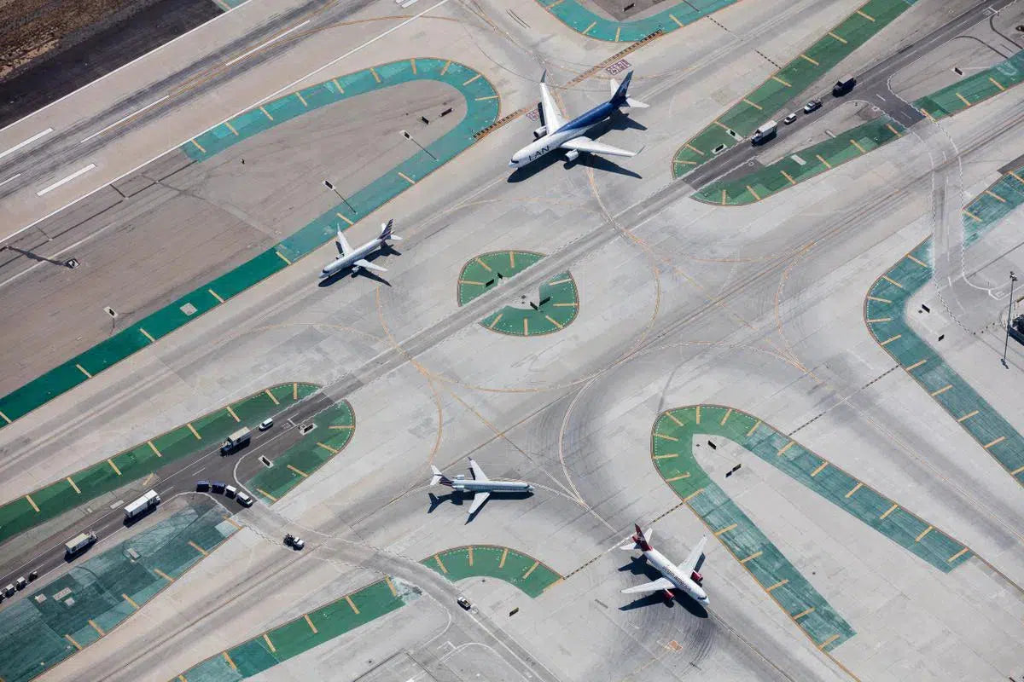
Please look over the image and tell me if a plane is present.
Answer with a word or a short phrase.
Yes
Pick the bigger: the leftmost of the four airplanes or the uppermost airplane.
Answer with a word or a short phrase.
the uppermost airplane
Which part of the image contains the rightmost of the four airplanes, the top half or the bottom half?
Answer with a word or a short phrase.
bottom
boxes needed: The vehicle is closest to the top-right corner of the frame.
[834,73,855,93]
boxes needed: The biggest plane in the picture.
[509,69,645,167]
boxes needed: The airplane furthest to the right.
[619,524,709,604]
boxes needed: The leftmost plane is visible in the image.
[319,218,400,278]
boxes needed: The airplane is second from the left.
[433,458,534,513]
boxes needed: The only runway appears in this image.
[0,0,446,242]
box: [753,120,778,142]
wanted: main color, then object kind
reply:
white truck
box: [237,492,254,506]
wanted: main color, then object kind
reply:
white car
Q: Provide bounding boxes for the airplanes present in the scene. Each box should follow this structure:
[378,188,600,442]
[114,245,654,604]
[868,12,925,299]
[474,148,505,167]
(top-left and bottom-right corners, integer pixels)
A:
[433,458,534,513]
[509,69,645,167]
[619,524,709,604]
[319,218,400,278]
